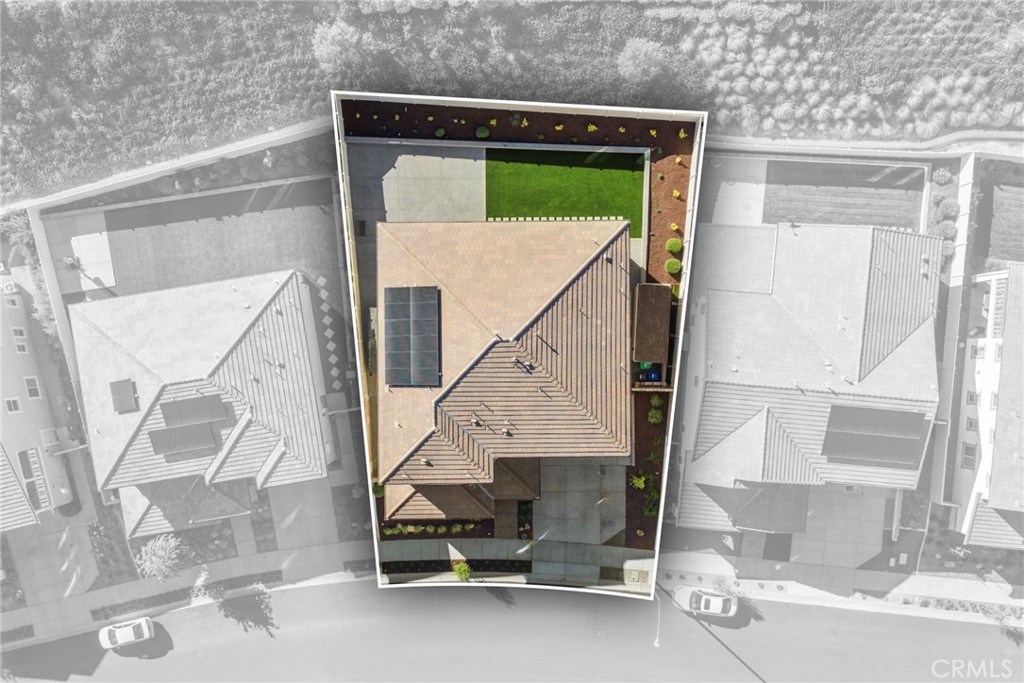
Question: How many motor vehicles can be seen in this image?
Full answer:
I count 2 motor vehicles.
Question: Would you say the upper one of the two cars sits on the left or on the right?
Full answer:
You can find the upper one of the two cars on the right side of the picture.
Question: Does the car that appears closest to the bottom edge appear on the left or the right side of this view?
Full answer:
The car that appears closest to the bottom edge appears in the left half of the scene.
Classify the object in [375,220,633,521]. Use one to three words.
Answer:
house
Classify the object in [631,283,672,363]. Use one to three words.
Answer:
shed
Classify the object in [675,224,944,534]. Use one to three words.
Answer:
house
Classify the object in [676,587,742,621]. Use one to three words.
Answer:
car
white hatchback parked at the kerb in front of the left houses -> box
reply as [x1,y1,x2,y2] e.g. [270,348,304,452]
[94,618,153,655]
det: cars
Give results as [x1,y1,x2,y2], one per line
[94,618,153,655]
[676,587,742,621]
